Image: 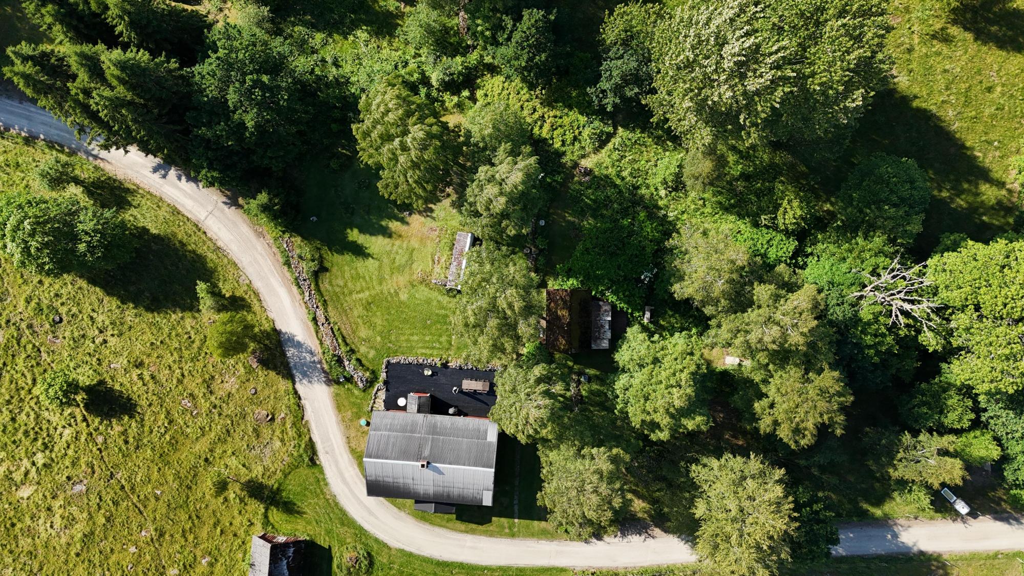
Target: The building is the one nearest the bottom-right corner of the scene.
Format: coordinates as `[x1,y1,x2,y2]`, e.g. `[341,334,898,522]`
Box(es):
[546,288,612,354]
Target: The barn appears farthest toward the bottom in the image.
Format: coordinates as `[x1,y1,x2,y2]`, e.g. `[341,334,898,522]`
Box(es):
[248,532,304,576]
